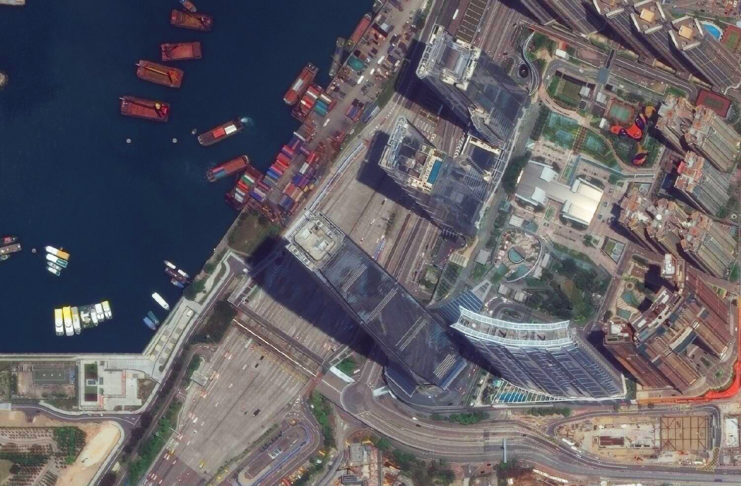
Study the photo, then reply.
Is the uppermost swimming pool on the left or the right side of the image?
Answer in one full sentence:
The uppermost swimming pool sits on the right side.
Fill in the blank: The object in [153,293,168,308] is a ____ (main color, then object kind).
white boat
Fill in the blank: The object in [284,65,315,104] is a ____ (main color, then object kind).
red ship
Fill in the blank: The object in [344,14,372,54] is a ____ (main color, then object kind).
red ship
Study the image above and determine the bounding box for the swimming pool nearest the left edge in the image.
[427,160,442,184]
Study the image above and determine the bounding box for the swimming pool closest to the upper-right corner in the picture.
[701,21,724,42]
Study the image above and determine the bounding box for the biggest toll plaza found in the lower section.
[238,286,340,368]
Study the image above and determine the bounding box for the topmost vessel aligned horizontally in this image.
[172,10,213,31]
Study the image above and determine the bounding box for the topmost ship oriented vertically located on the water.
[329,39,344,76]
